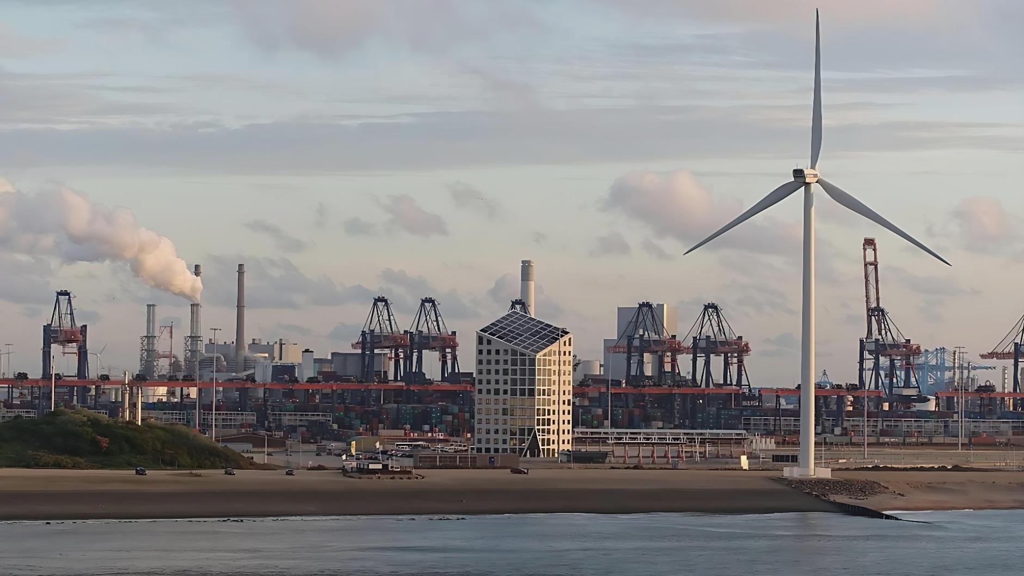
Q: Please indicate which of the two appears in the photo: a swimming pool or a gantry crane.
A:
gantry crane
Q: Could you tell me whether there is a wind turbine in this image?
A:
Yes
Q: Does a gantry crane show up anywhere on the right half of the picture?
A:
Yes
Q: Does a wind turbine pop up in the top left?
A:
No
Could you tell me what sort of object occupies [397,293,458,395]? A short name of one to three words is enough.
container crane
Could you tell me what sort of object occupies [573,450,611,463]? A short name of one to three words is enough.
building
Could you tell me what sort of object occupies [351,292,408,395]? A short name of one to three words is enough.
container crane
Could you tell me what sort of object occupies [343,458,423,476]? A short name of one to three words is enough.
building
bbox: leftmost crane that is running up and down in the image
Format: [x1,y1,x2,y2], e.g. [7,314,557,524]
[43,286,86,401]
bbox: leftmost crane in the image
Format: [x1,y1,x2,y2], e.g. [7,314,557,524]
[0,371,40,398]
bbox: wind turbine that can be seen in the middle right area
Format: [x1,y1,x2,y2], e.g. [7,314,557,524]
[680,9,957,475]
